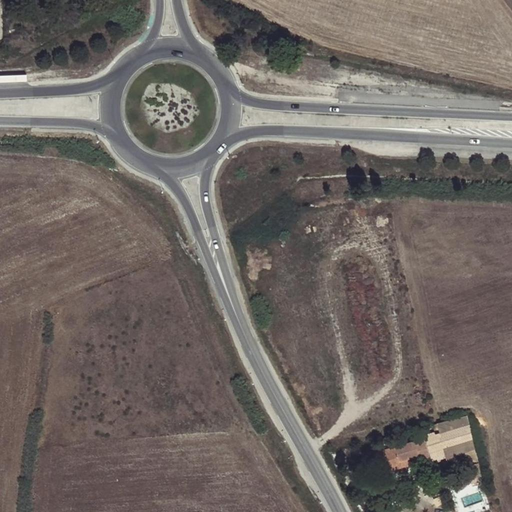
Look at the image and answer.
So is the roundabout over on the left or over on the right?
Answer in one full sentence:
You can find the roundabout on the left side of the picture.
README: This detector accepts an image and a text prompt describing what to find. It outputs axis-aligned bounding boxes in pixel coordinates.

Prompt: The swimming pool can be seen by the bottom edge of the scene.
[460,492,483,508]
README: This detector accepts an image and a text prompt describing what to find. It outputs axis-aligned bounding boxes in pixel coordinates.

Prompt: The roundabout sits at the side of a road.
[100,38,240,178]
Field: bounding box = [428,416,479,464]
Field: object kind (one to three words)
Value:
barn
